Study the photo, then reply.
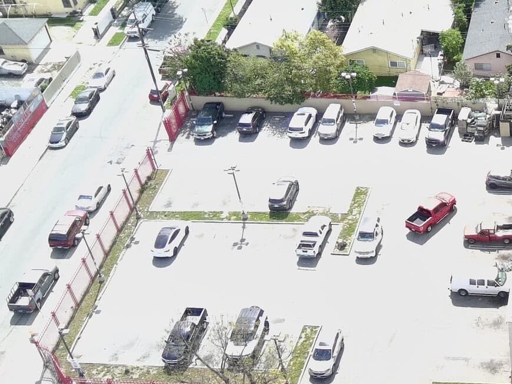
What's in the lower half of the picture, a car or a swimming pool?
car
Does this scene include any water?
No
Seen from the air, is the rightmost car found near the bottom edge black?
No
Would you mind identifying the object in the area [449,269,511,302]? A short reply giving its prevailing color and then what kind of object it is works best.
white van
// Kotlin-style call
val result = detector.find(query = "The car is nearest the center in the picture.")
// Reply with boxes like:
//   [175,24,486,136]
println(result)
[267,178,301,213]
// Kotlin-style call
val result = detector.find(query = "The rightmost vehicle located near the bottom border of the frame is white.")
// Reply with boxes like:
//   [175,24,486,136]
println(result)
[309,329,351,378]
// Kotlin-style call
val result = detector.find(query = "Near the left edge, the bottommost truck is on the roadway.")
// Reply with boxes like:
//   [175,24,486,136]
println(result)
[0,264,66,316]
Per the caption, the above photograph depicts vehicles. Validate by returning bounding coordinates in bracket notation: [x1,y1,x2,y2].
[88,66,120,92]
[71,83,104,115]
[483,168,512,189]
[427,107,454,143]
[161,305,212,363]
[354,211,384,258]
[319,103,343,139]
[148,224,194,262]
[228,303,269,359]
[0,58,33,78]
[449,269,511,302]
[309,329,351,378]
[373,109,395,139]
[290,110,316,138]
[72,179,119,213]
[124,0,154,31]
[194,104,223,139]
[405,194,462,234]
[461,220,512,247]
[239,108,265,135]
[43,210,98,249]
[267,178,301,213]
[292,215,334,259]
[0,264,66,316]
[398,113,420,142]
[47,117,84,148]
